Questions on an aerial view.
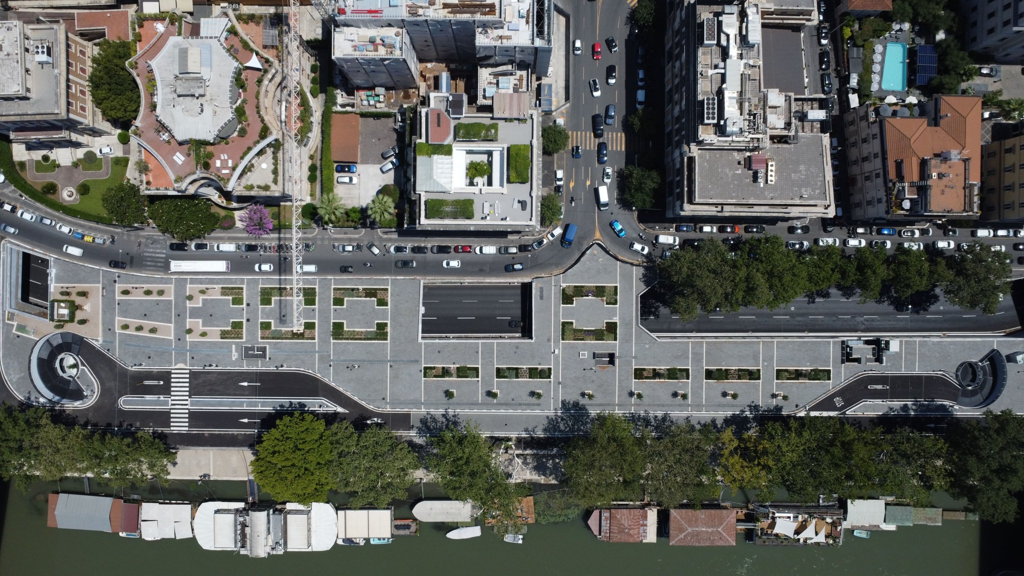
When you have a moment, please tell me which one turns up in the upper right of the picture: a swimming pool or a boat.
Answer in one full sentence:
The one visible in the upper right of the picture is a swimming pool.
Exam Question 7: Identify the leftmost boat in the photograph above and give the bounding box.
[47,493,123,532]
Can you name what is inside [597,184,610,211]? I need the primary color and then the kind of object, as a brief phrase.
white vehicle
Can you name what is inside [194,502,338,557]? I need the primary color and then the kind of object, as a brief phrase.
white boat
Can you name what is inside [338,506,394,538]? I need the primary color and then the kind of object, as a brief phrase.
white boat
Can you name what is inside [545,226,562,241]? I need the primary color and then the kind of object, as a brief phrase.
white car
